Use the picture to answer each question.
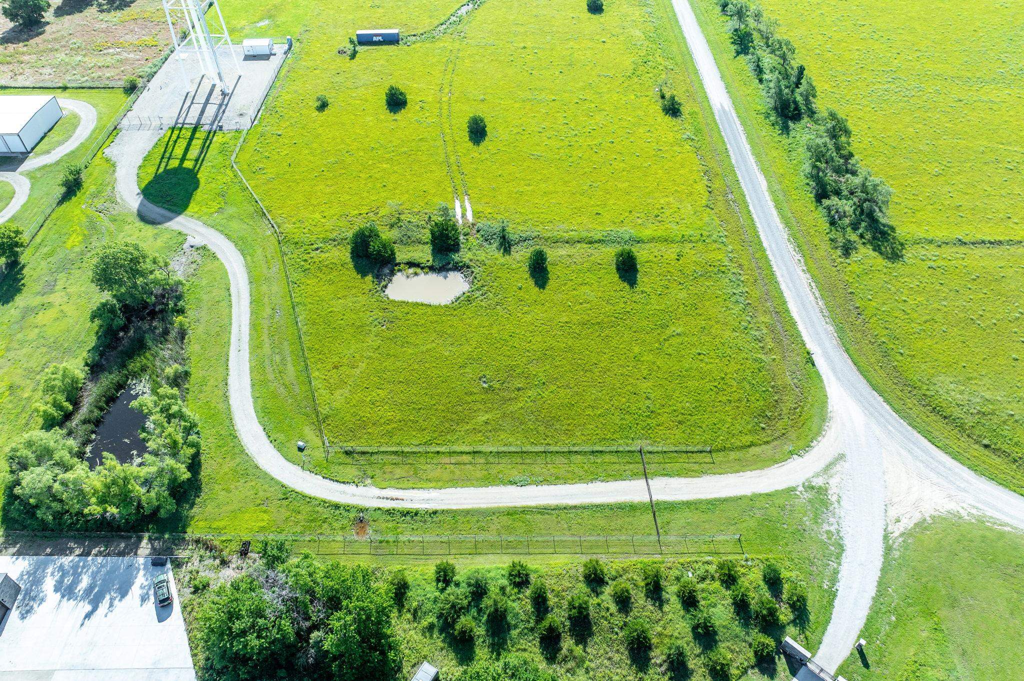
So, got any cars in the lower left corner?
Yes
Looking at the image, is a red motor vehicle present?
No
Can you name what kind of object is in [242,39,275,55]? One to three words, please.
shed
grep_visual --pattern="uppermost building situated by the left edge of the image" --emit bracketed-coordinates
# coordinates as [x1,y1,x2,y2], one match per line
[0,95,65,155]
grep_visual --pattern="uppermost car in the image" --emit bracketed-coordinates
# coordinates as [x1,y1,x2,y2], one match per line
[152,570,176,611]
